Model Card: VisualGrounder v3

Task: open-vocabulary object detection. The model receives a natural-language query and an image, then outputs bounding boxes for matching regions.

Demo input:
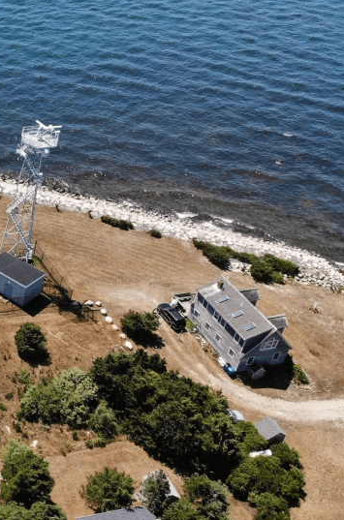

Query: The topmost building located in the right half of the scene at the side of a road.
[188,277,298,379]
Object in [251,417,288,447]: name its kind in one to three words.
shed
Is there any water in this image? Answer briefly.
Yes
